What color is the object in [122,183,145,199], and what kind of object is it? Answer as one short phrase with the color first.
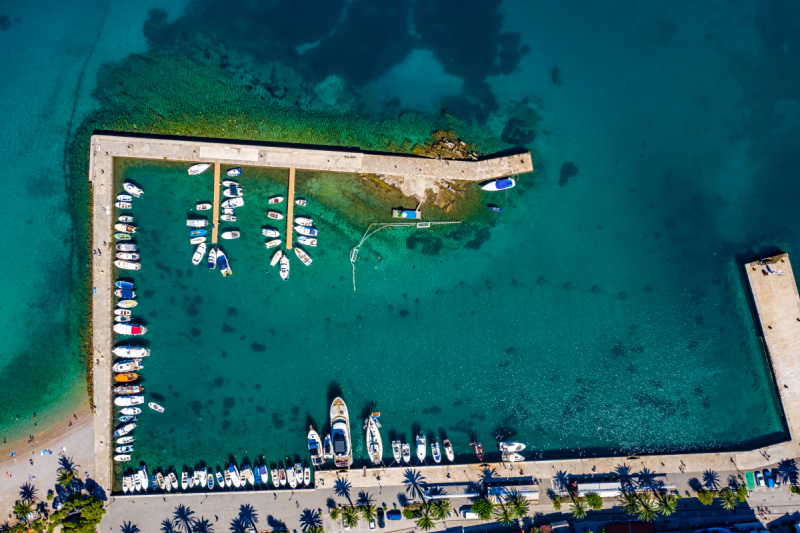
white boat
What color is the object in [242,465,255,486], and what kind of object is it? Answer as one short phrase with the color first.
white boat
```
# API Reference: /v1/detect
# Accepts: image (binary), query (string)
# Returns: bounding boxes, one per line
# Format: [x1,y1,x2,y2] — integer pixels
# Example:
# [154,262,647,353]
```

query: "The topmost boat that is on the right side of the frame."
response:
[482,177,518,190]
